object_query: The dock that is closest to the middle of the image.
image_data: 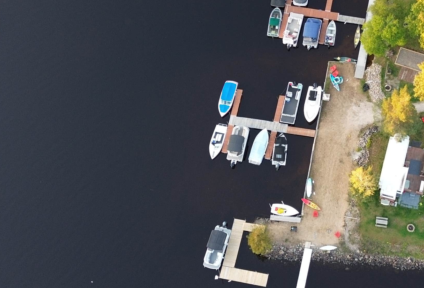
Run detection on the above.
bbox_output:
[221,89,316,162]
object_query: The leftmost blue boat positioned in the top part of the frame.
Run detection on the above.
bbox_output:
[218,80,237,117]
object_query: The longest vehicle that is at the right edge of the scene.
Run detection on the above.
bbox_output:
[378,135,411,202]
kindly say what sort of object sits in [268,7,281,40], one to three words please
boat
